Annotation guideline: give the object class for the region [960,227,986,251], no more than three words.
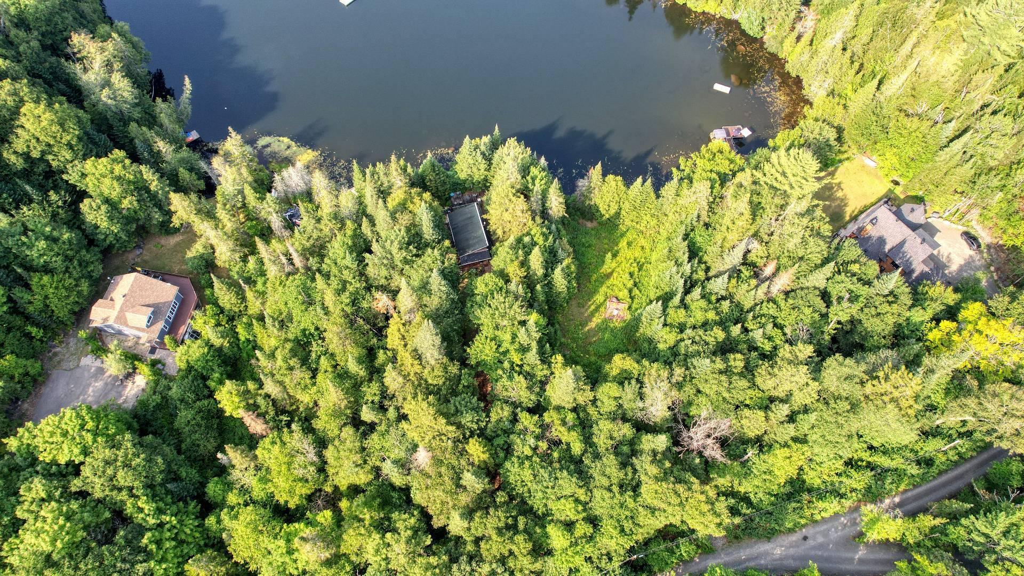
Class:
car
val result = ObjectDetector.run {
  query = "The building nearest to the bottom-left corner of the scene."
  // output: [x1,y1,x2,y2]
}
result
[90,273,189,352]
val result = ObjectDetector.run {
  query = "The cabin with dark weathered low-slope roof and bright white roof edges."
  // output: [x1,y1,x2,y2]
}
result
[446,201,492,271]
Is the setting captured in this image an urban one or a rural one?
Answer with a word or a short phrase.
rural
